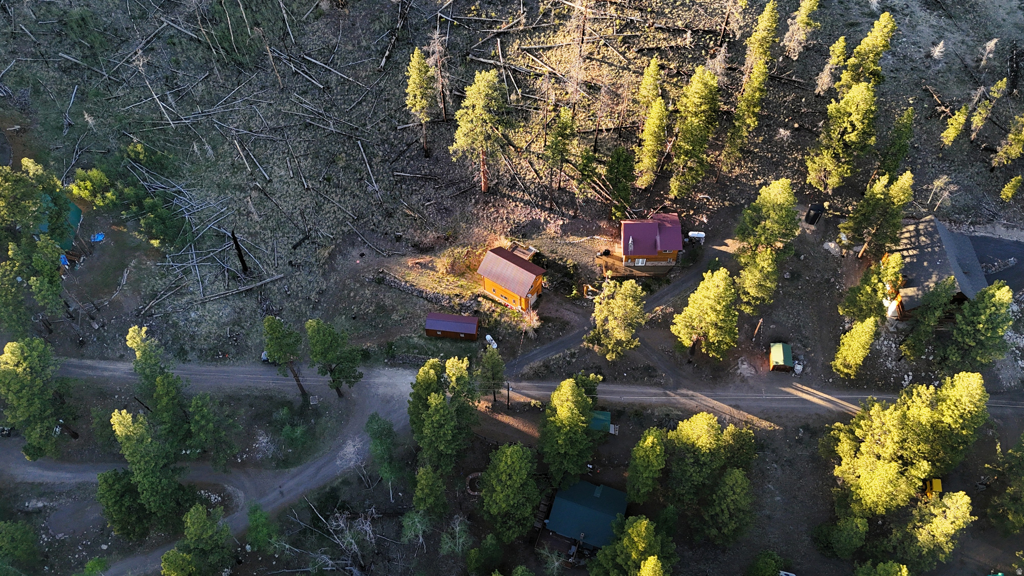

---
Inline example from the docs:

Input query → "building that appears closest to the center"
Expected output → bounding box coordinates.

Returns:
[477,247,549,310]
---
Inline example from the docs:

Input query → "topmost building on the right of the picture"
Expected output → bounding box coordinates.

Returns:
[619,212,685,268]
